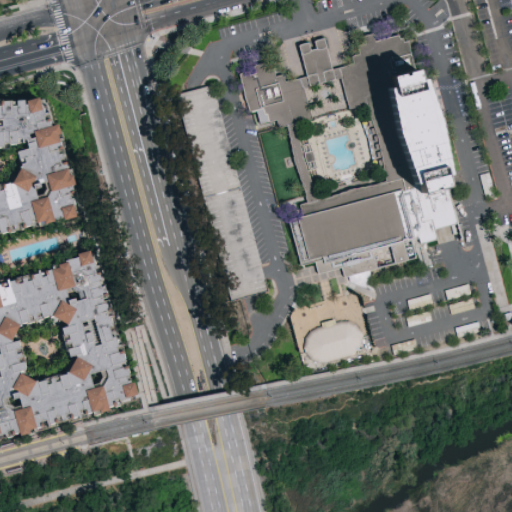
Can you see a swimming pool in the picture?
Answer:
Yes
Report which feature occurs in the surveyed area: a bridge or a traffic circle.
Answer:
bridge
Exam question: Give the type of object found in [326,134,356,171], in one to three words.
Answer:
swimming pool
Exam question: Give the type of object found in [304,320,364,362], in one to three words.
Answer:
tent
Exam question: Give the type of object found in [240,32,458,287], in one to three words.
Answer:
building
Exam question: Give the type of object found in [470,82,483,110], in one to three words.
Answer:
vehicle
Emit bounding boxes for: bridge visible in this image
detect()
[137,384,272,432]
